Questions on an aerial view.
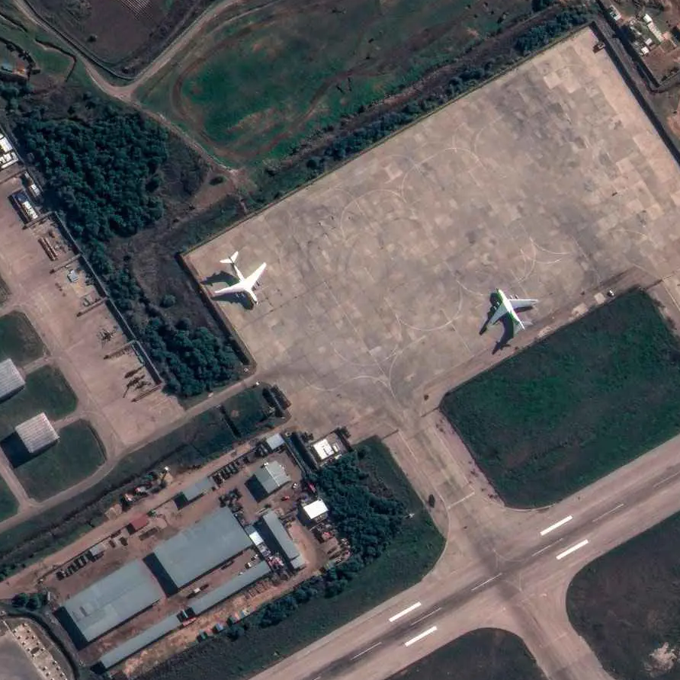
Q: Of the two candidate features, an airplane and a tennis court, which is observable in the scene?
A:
airplane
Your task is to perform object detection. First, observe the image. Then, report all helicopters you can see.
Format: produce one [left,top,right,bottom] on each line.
[98,325,119,343]
[137,382,151,389]
[129,363,145,374]
[127,374,146,387]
